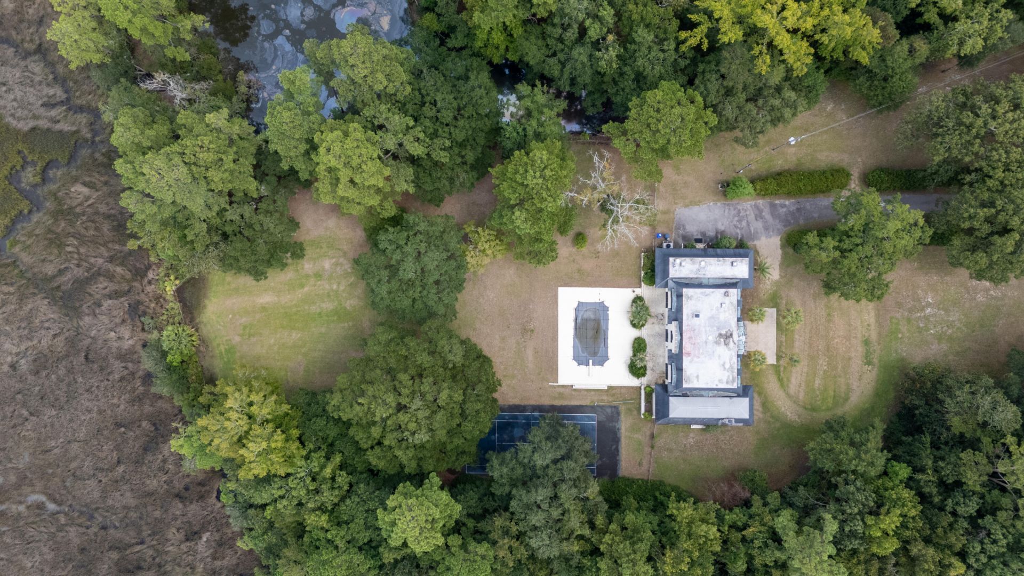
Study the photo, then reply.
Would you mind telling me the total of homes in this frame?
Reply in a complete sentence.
There is 1 home in the image.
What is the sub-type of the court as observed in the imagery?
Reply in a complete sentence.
Looking closely, the court is a tennis court.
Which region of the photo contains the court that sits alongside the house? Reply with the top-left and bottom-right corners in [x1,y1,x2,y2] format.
[451,404,621,483]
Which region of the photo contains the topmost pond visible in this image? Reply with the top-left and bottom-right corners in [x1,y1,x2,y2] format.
[200,0,427,135]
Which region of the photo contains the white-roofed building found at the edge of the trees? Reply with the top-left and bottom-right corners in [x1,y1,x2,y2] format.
[654,248,754,425]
